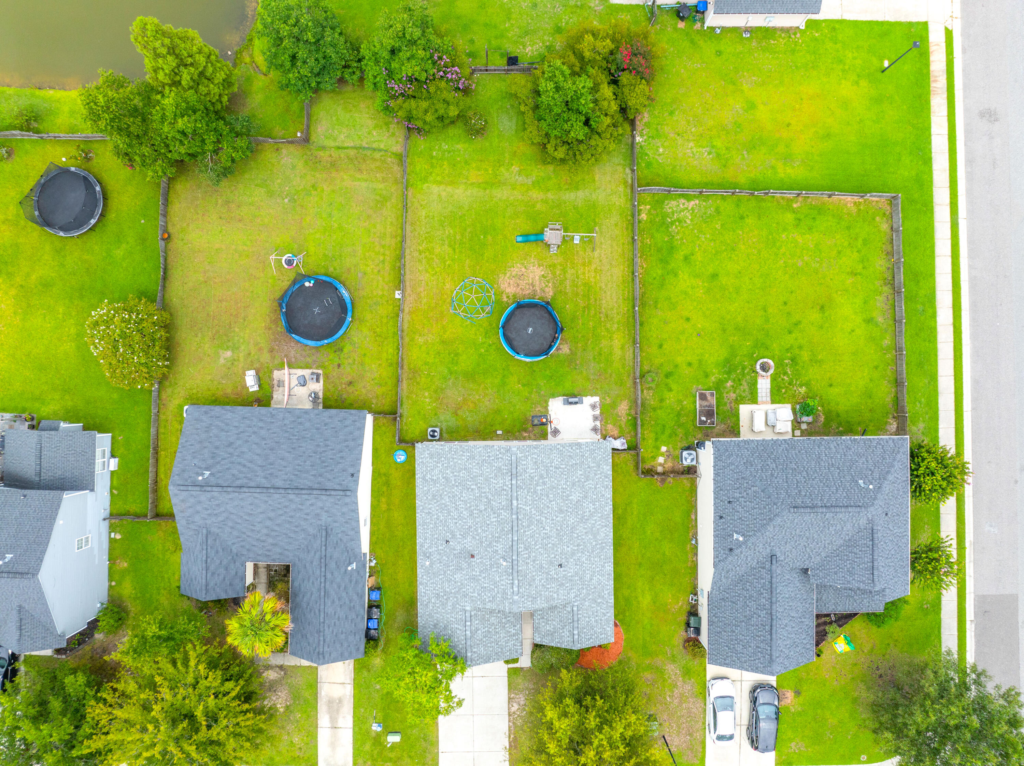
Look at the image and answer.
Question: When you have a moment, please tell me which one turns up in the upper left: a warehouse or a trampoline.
trampoline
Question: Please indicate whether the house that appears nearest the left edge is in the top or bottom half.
bottom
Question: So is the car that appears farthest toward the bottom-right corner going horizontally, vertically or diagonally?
vertically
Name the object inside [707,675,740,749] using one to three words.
car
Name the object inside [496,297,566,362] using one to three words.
trampoline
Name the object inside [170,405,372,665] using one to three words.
house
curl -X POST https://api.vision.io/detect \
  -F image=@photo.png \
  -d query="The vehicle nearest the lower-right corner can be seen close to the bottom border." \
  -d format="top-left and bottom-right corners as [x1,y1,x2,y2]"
[745,680,783,753]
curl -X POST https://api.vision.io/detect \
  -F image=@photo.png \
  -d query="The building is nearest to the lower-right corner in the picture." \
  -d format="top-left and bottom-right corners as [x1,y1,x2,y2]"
[696,434,911,677]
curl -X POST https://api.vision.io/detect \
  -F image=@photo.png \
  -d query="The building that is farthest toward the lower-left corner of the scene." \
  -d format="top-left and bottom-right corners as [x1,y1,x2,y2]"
[0,420,112,657]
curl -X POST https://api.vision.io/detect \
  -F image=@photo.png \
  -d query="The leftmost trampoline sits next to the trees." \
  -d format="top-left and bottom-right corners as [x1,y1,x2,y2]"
[19,160,111,239]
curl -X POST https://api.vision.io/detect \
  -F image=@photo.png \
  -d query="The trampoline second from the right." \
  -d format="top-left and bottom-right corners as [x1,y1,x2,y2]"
[273,273,356,348]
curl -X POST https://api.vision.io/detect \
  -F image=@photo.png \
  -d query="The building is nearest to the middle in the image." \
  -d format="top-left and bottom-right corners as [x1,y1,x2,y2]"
[415,439,614,665]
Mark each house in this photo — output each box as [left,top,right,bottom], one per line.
[0,420,112,657]
[170,405,372,665]
[415,439,614,665]
[696,434,911,677]
[660,0,833,35]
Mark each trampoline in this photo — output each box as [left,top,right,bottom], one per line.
[496,297,566,362]
[273,273,356,348]
[19,160,111,239]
